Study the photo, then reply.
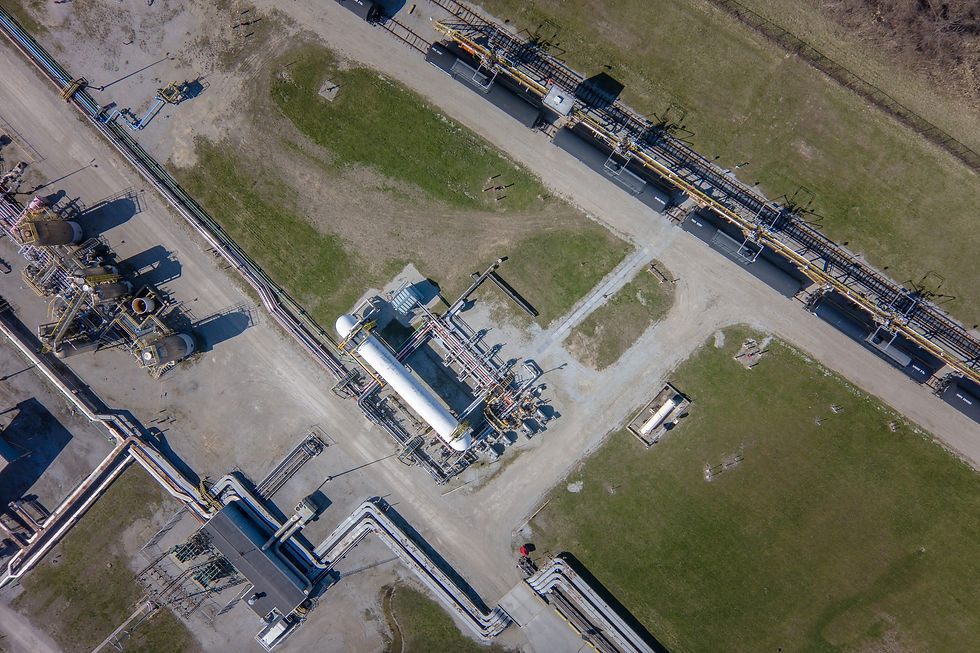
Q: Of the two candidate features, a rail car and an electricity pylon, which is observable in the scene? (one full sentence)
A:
I can see a rail car in this picture.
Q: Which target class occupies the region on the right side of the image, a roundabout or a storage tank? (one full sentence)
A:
There is a storage tank on the right side of the image.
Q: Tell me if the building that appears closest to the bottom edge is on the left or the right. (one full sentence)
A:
The building that appears closest to the bottom edge appears in the left half of the scene.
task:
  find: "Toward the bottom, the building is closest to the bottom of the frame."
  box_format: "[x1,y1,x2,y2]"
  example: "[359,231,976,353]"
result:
[203,505,317,619]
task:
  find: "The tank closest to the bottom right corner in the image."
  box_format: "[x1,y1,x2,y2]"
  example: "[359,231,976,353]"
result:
[627,382,691,446]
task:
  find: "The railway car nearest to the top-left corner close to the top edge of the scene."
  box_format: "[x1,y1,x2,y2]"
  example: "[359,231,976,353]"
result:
[338,0,391,30]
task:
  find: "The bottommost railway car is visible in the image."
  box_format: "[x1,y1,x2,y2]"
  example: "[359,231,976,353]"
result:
[936,379,980,424]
